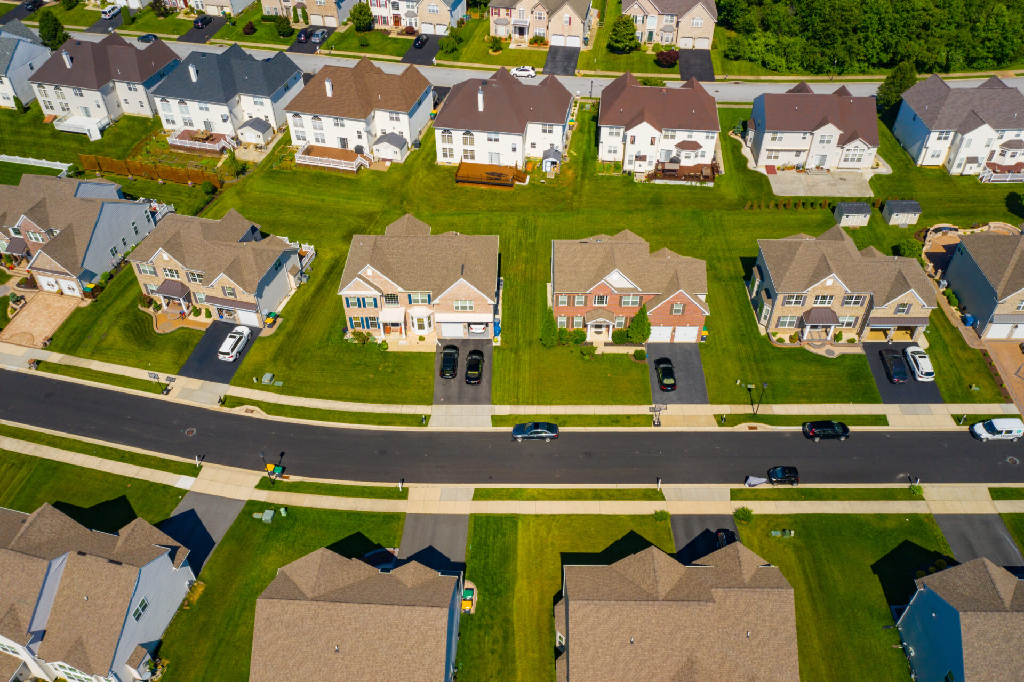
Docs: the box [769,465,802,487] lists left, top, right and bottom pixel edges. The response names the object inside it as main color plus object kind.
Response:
black car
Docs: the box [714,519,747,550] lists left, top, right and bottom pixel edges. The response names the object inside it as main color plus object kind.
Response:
black car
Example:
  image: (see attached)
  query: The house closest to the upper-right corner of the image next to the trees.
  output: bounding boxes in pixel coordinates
[892,73,1024,175]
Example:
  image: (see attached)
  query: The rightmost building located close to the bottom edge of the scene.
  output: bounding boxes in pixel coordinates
[895,551,1024,682]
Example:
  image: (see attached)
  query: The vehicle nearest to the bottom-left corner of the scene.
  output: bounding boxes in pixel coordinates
[218,327,251,361]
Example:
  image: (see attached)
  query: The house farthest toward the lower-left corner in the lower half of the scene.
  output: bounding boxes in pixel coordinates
[0,498,200,682]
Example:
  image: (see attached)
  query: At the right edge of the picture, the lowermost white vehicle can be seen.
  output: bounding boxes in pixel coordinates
[970,419,1024,444]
